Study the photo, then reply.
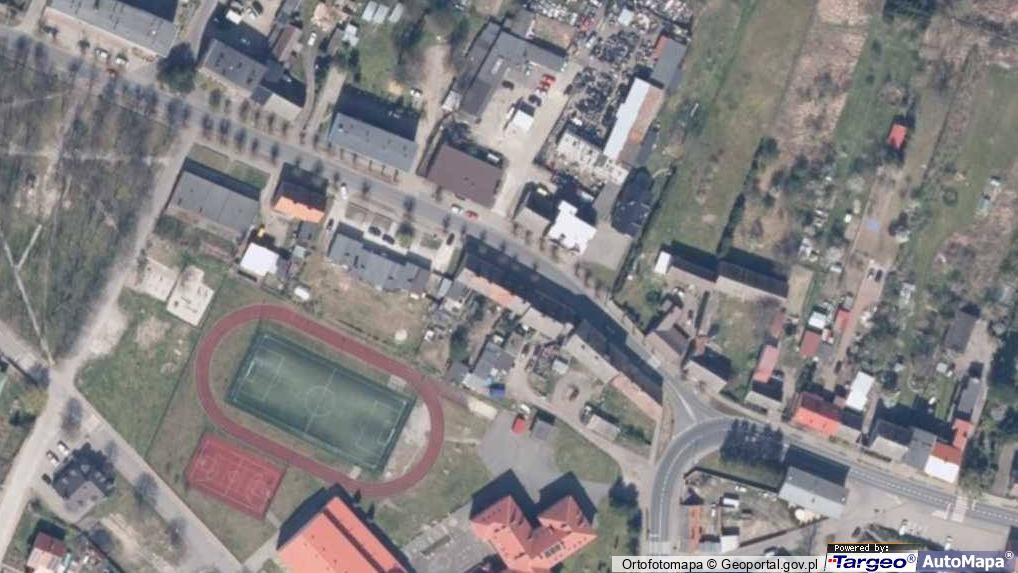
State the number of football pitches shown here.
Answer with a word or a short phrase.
1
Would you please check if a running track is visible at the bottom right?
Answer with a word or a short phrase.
No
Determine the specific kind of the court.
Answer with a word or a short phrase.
basketball court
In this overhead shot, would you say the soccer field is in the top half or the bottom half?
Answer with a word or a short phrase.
bottom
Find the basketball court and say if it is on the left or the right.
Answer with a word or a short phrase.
left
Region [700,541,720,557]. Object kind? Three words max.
shed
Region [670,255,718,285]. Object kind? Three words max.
barn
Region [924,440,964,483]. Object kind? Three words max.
house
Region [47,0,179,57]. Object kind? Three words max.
building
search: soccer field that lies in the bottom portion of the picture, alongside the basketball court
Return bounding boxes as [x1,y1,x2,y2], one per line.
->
[228,331,412,473]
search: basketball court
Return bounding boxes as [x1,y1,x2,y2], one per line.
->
[185,434,284,518]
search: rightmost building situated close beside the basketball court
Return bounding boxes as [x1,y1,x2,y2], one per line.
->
[278,496,411,573]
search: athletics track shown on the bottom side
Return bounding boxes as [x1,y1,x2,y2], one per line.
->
[196,303,444,495]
